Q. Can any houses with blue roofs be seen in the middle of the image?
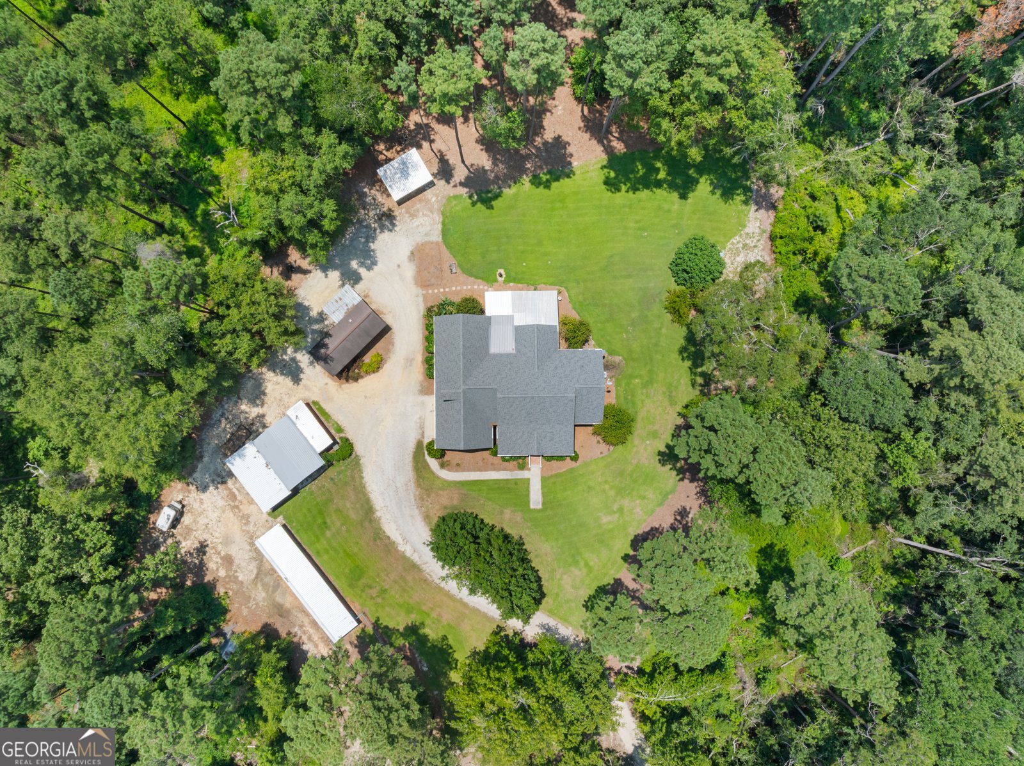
No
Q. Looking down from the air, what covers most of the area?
trees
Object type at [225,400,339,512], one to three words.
building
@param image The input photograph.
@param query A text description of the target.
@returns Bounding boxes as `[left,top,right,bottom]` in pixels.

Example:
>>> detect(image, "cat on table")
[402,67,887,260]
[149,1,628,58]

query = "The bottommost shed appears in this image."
[255,522,360,645]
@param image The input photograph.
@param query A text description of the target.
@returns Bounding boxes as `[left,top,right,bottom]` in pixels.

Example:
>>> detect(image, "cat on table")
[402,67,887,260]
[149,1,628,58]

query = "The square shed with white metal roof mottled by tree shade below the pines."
[377,148,433,205]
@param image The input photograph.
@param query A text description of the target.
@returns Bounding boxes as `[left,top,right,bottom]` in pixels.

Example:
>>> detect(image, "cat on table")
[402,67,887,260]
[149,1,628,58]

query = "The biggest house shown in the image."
[433,291,604,466]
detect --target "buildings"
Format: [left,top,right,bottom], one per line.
[255,522,360,645]
[225,400,339,512]
[309,285,388,375]
[377,148,433,205]
[433,291,604,466]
